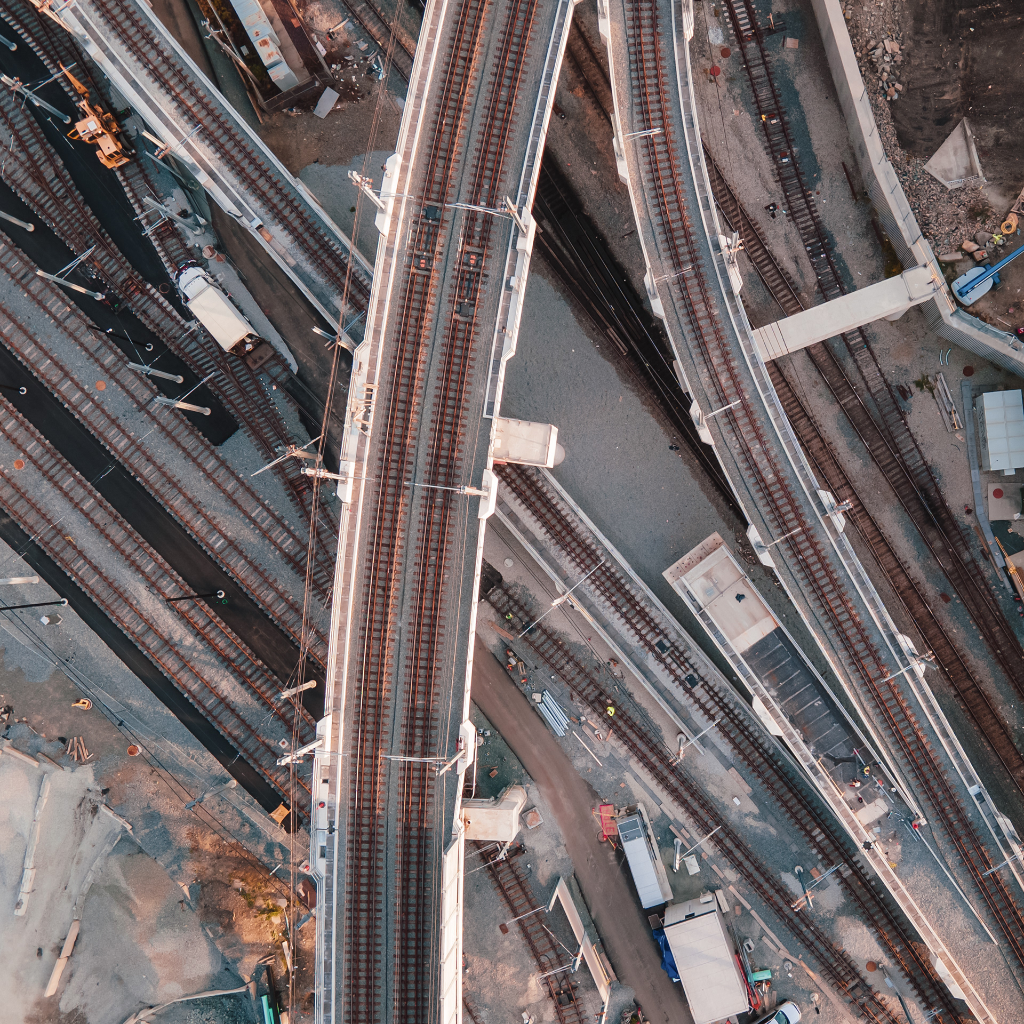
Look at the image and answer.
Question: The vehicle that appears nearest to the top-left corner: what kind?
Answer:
truck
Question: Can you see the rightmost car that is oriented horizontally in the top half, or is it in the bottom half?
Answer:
bottom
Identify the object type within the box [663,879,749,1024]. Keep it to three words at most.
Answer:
building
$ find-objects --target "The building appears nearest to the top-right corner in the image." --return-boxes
[971,389,1024,476]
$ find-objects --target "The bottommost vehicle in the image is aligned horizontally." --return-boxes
[747,1002,798,1024]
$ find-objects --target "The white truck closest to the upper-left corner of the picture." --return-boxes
[176,260,274,369]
